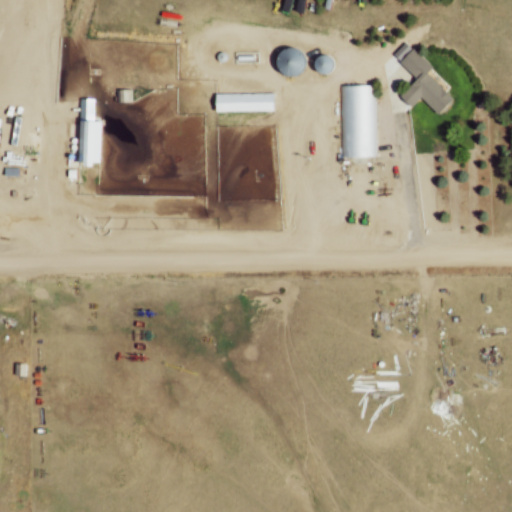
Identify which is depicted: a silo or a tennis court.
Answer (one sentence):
The image shows a silo.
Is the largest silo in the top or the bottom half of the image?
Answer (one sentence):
You can find the largest silo in the top half.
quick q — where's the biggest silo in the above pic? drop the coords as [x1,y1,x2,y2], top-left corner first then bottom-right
[276,46,308,78]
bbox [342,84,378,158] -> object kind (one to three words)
barn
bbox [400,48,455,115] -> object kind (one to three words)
house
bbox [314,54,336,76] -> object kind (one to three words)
silo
